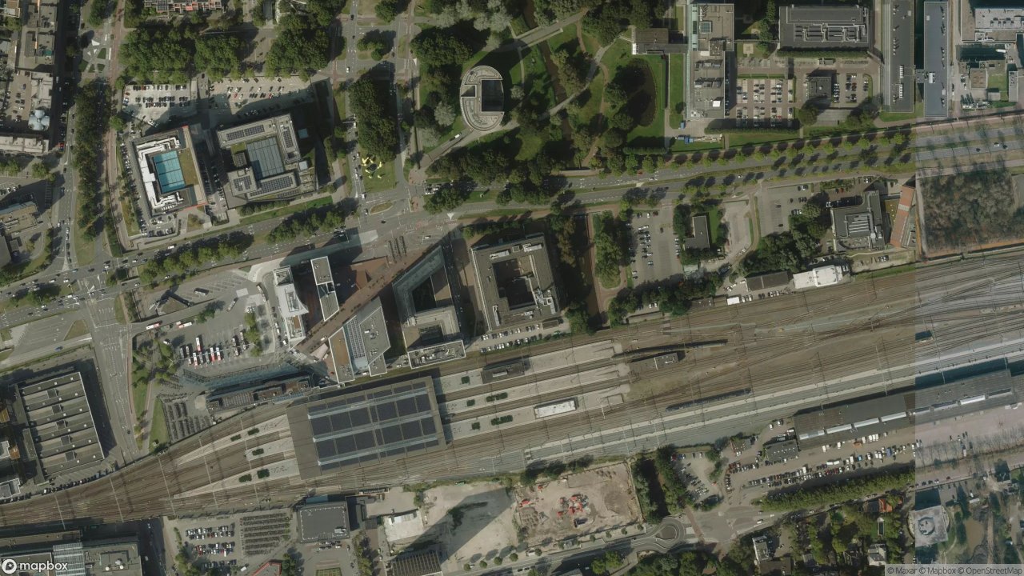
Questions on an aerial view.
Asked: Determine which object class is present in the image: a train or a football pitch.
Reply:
train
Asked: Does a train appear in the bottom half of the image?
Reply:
Yes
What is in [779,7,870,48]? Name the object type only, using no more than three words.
building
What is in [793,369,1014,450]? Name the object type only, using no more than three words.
shed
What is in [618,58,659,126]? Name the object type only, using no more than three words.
pond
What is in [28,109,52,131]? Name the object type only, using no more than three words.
building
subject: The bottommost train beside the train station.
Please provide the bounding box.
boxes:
[667,389,752,411]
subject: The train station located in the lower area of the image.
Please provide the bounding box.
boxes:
[177,340,630,499]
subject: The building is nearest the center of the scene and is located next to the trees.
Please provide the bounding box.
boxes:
[472,233,560,331]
